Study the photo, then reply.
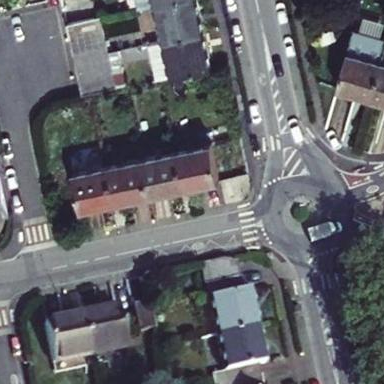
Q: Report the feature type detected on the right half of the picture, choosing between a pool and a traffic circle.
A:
traffic circle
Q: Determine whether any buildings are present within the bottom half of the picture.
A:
Yes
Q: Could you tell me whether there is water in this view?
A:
No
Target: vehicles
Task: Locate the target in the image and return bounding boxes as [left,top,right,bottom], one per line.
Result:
[10,335,22,356]
[290,119,302,144]
[48,0,58,9]
[244,271,263,281]
[227,0,238,12]
[354,164,375,175]
[6,168,18,190]
[2,138,13,160]
[12,16,24,41]
[308,222,342,241]
[283,36,296,58]
[232,21,244,42]
[250,134,262,154]
[248,102,260,124]
[272,54,284,77]
[118,286,130,310]
[12,192,24,214]
[325,130,341,151]
[276,2,288,25]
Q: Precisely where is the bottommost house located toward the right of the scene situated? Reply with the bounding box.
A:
[220,320,270,367]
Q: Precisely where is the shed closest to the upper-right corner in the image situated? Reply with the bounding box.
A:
[359,20,384,40]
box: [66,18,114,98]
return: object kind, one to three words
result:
building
